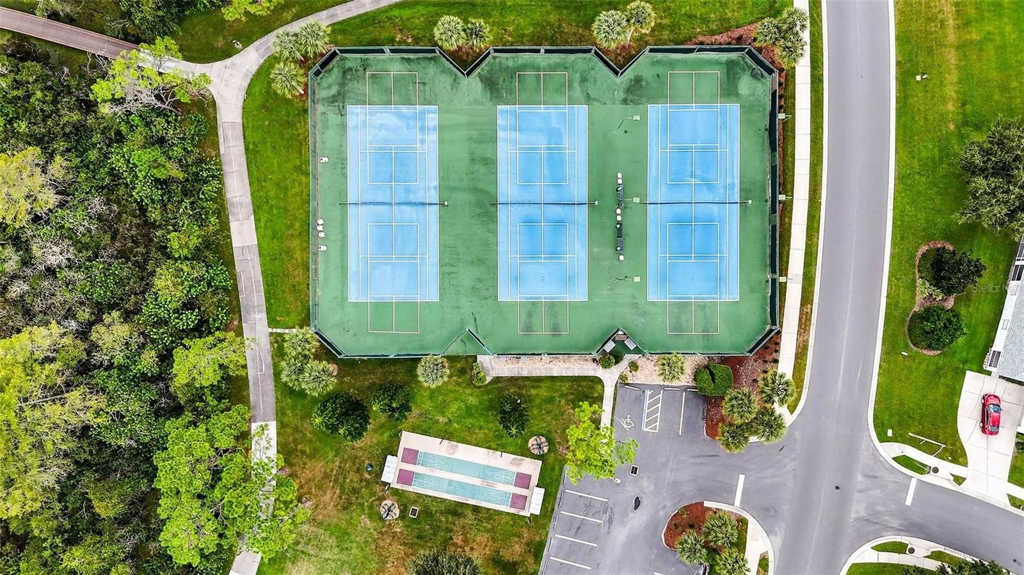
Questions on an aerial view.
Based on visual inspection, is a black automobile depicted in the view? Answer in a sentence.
No, the frame has no black automobile in it.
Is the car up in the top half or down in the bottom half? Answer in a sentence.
The car sits in the bottom half of the picture.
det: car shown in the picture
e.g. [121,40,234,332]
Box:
[981,396,1005,436]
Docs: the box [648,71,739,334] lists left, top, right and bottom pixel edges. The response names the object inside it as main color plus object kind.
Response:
blue tennis court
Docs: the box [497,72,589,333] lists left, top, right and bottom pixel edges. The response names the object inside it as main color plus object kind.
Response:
blue tennis court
